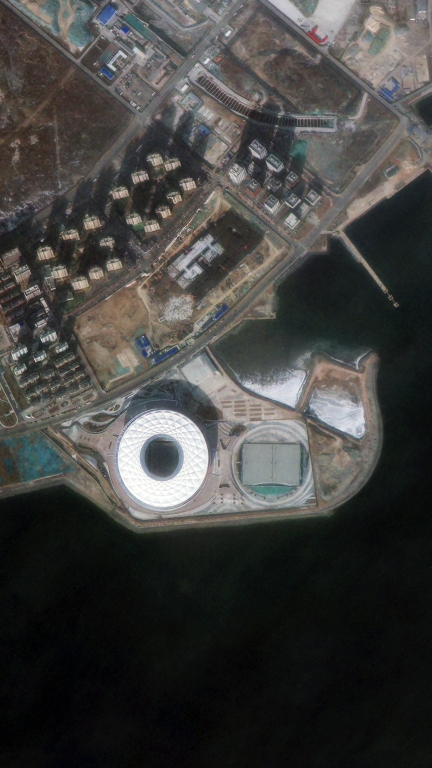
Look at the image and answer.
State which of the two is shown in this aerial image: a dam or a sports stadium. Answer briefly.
sports stadium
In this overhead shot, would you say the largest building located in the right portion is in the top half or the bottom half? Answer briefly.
top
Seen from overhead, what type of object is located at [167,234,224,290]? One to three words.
building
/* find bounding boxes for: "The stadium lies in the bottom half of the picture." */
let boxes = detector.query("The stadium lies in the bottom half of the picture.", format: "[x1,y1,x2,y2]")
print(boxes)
[112,408,212,516]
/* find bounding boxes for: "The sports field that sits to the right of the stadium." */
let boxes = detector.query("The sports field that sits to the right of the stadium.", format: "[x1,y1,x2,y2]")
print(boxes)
[230,420,315,506]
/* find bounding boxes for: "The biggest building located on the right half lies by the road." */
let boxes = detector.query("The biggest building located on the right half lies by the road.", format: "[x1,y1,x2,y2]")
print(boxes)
[187,65,337,131]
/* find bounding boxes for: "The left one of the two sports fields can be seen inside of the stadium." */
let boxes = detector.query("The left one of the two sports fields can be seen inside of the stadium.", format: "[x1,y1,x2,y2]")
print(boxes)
[148,443,176,477]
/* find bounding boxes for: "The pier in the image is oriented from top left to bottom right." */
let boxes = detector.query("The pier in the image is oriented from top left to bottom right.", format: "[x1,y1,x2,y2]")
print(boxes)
[340,231,386,290]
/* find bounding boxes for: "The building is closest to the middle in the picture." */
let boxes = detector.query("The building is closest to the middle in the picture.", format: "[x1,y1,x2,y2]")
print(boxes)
[181,354,217,388]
